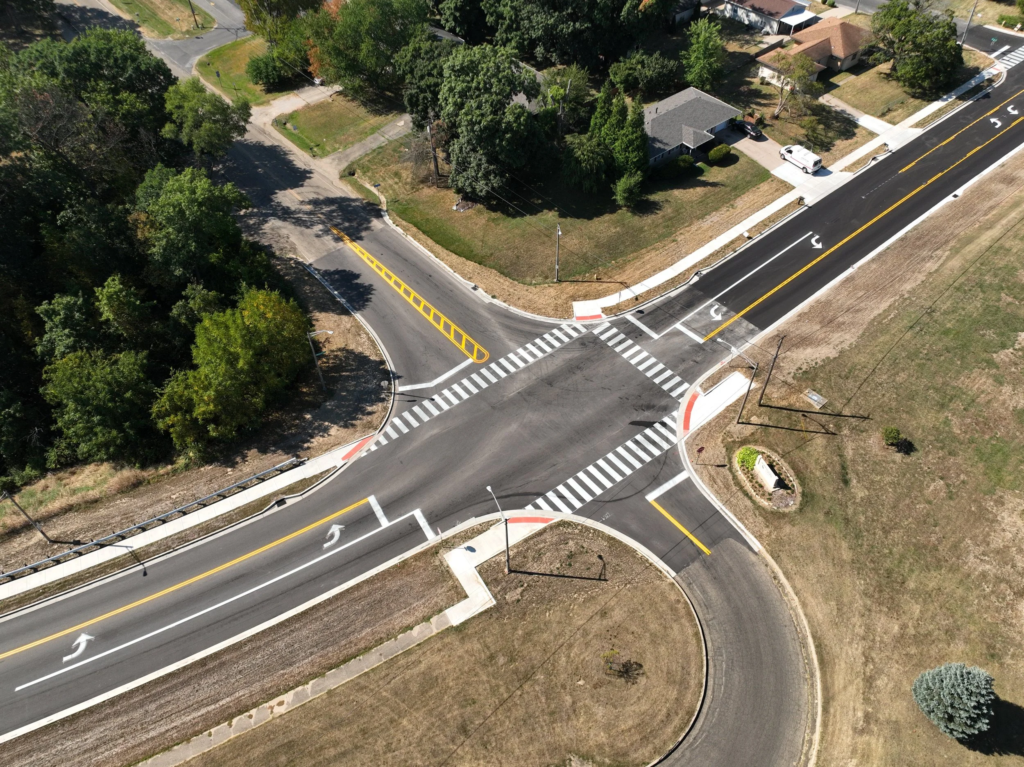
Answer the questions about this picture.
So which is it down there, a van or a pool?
van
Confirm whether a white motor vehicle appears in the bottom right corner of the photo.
No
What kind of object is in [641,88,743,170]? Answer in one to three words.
house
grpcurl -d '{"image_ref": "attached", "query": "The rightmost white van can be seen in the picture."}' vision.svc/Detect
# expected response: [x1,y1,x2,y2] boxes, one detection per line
[779,147,822,175]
